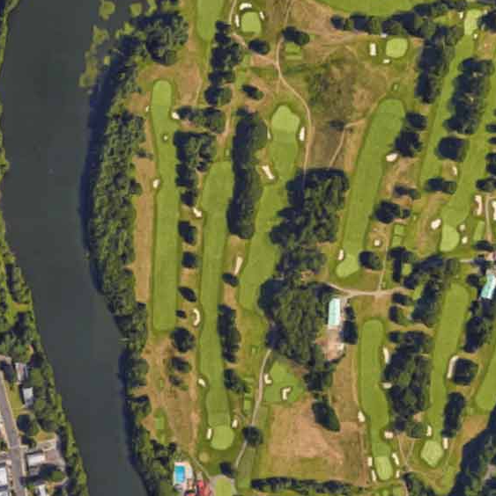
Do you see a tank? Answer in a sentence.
No, this view has no tank in it.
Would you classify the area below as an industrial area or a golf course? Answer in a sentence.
The area seen from above is a golf course.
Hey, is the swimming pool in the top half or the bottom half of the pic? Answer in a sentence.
The swimming pool is in the bottom half of the image.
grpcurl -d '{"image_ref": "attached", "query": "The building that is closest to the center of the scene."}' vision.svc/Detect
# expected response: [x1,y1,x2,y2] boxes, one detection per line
[327,297,342,328]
